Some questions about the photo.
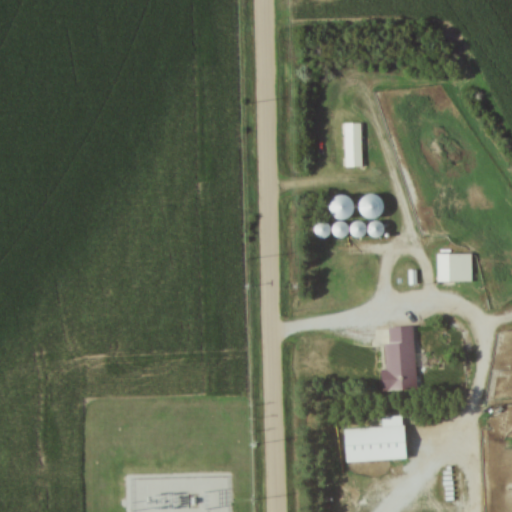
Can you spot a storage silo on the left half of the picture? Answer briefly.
No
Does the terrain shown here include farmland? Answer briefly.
Yes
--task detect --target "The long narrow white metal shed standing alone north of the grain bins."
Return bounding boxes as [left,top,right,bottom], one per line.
[343,122,363,167]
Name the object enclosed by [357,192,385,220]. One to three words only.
silo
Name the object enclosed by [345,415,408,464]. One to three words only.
barn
